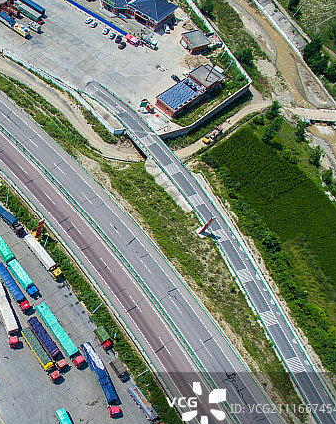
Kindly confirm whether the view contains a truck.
Yes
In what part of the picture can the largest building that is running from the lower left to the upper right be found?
top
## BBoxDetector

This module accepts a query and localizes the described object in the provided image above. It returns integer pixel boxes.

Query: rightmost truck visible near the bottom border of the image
[125,384,161,424]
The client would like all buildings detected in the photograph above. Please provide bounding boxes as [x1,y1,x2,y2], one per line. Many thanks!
[155,62,225,119]
[178,29,212,58]
[100,0,179,30]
